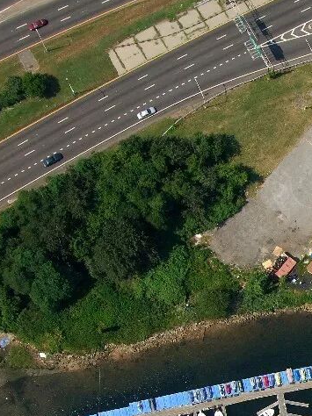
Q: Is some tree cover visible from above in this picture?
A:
Yes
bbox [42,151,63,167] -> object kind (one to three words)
car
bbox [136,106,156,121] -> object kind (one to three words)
car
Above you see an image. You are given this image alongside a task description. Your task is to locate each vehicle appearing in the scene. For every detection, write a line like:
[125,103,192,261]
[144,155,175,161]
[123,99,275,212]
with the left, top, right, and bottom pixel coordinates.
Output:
[27,16,48,32]
[42,151,63,167]
[136,106,156,121]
